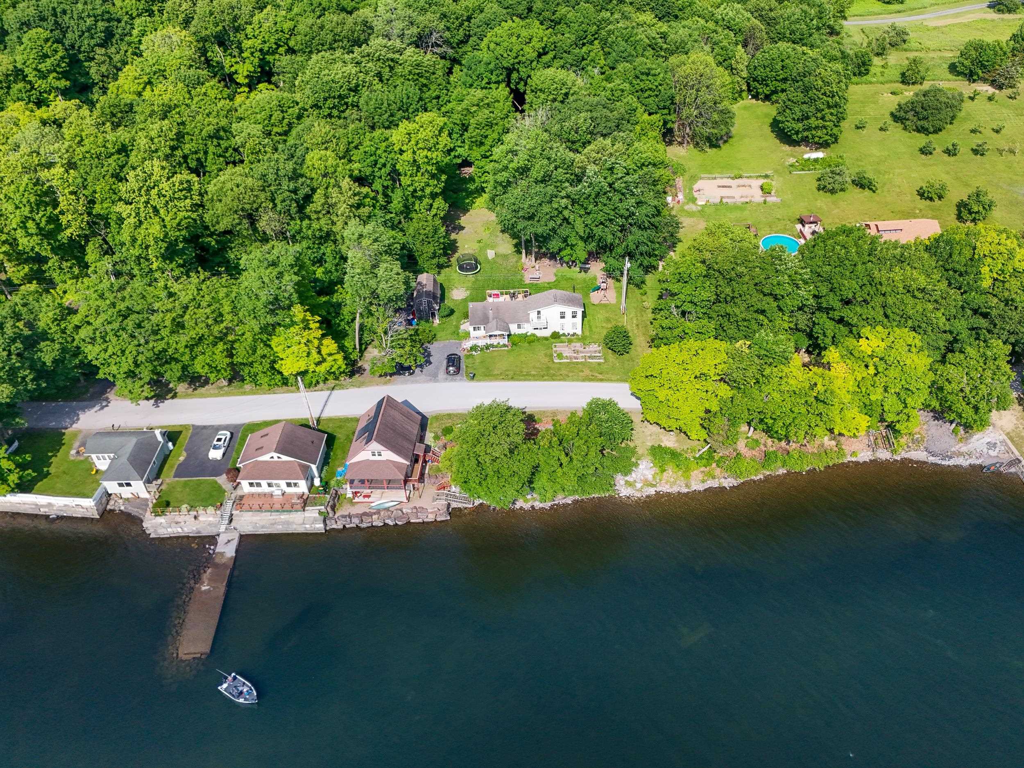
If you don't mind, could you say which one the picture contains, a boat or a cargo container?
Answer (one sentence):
Looking from above, you can make out a boat.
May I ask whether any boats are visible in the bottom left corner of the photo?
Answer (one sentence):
Yes, a boat is visible in the bottom left corner of the photo.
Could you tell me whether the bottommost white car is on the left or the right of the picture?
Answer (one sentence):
The bottommost white car is on the left side of the image.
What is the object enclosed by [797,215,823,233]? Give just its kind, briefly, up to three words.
gazebo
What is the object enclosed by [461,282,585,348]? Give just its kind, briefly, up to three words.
house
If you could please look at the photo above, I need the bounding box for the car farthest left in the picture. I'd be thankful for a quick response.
[207,430,230,459]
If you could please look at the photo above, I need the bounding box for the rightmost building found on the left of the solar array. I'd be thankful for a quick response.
[235,421,327,512]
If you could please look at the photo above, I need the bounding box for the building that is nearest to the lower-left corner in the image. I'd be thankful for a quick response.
[84,426,174,497]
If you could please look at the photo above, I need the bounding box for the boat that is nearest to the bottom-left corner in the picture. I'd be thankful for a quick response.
[218,673,260,704]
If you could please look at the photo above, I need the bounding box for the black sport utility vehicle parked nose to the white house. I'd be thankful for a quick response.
[445,351,461,373]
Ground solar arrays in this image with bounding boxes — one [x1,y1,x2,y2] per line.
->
[355,398,382,451]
